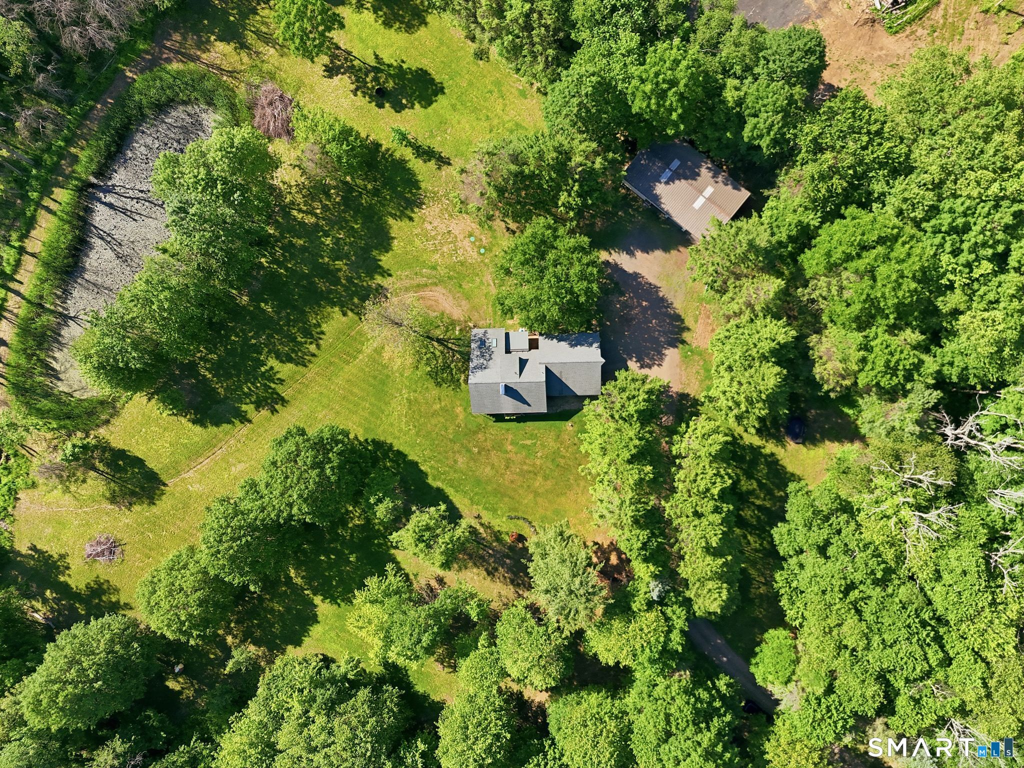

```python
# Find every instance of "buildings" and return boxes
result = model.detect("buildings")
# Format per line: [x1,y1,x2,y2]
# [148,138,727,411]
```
[624,132,751,239]
[468,328,605,415]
